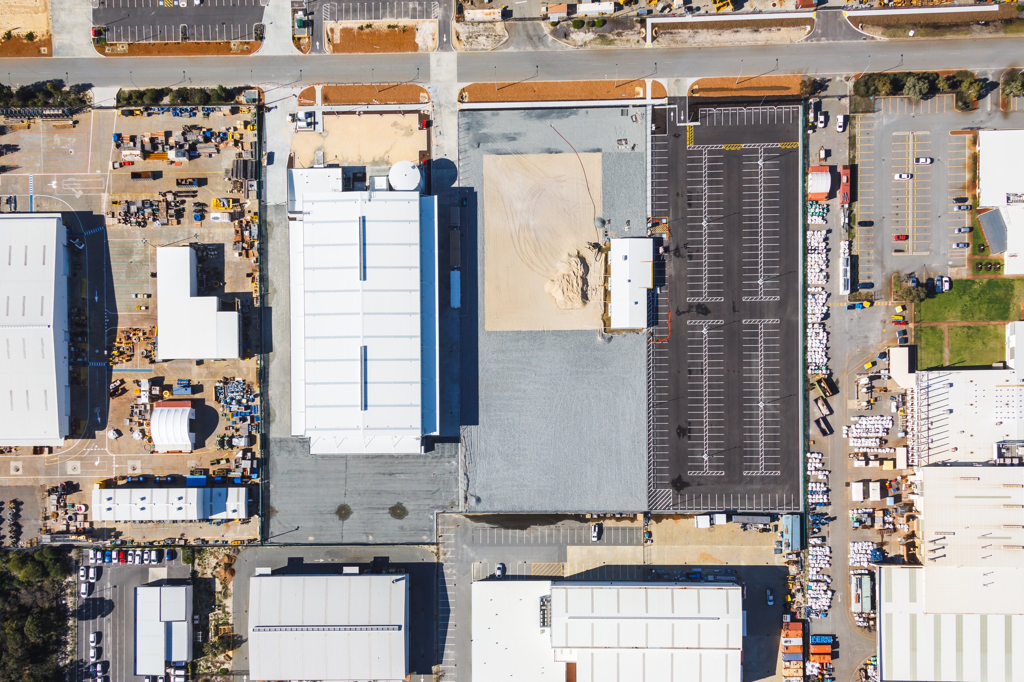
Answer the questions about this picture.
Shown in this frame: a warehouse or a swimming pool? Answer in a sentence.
Looking from above, you can make out a warehouse.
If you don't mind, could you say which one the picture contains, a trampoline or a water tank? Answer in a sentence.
The one in the frame is a water tank.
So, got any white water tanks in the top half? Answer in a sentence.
Yes, there is a white water tank in the top half.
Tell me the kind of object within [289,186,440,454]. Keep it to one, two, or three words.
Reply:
warehouse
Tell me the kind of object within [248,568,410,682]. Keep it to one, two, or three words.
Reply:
warehouse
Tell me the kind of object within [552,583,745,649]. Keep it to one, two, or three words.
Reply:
building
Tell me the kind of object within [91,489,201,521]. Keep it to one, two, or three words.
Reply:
shed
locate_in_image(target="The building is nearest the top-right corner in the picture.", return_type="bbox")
[972,130,1024,211]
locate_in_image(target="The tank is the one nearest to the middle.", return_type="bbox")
[389,160,424,192]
